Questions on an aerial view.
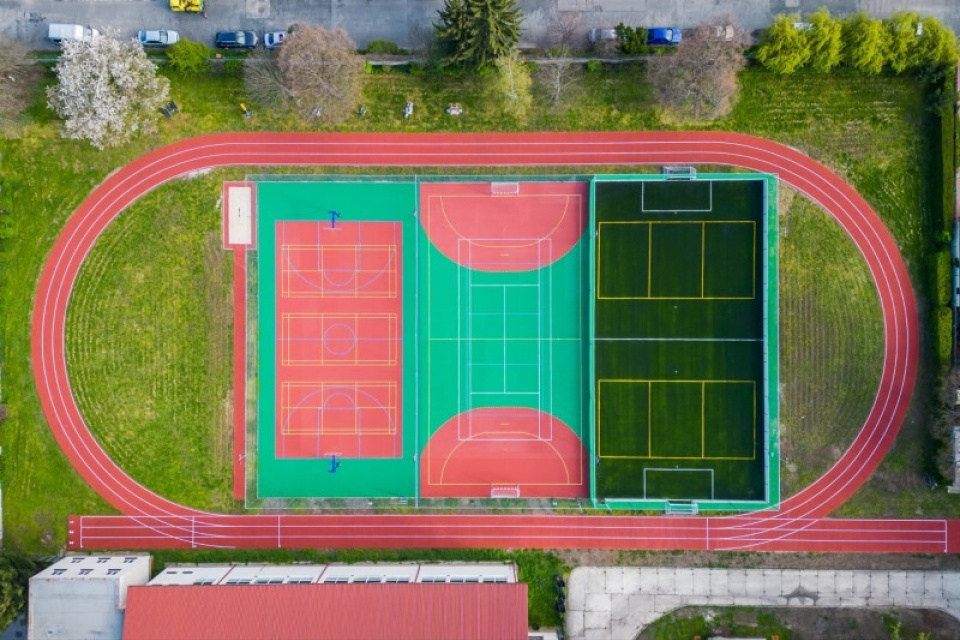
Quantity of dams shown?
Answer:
0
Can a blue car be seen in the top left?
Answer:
Yes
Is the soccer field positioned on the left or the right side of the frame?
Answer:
right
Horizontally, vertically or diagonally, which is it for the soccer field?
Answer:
vertically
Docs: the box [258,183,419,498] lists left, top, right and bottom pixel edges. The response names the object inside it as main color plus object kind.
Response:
red basketball court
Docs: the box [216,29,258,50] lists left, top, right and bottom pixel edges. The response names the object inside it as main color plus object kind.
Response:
blue car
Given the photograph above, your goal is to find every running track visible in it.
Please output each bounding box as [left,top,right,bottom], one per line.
[32,132,960,554]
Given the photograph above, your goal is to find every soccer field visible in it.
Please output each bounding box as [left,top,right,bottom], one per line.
[590,171,763,510]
